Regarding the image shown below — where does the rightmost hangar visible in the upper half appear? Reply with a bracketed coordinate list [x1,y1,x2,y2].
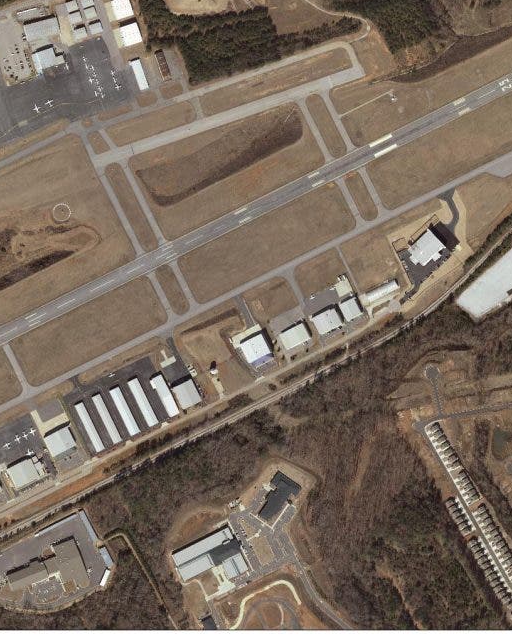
[407,230,445,266]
